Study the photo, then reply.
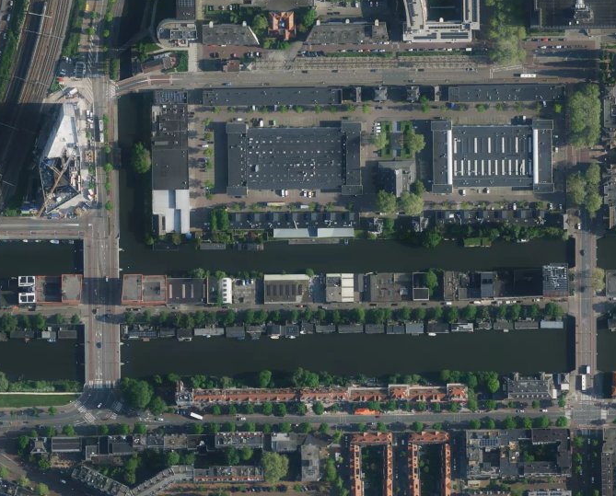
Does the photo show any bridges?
Yes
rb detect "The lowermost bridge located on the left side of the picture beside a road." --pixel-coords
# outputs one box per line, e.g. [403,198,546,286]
[83,327,124,389]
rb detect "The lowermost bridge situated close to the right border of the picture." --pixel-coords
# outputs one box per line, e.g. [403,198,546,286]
[575,321,598,375]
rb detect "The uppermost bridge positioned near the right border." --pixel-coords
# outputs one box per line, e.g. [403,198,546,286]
[575,231,598,268]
